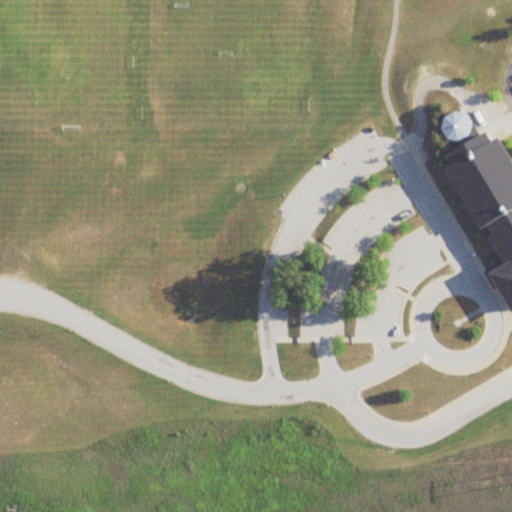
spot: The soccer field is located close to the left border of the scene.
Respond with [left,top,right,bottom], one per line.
[0,26,131,98]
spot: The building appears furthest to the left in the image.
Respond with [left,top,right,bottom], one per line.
[441,110,471,141]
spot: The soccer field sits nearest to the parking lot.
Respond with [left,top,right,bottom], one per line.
[142,70,308,146]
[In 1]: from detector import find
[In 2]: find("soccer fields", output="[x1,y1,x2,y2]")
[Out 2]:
[0,26,131,98]
[142,70,308,146]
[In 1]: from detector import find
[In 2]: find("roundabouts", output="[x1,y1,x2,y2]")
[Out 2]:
[411,278,509,374]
